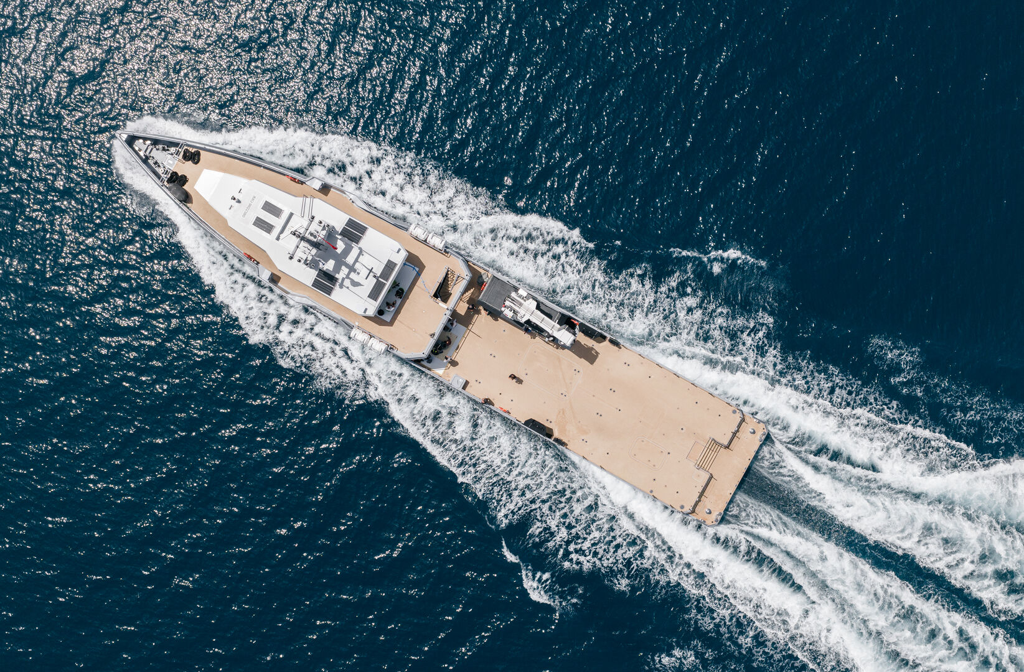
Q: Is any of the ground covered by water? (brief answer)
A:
Yes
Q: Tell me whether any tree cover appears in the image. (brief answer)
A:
No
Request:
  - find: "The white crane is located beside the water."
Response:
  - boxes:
[502,289,579,348]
